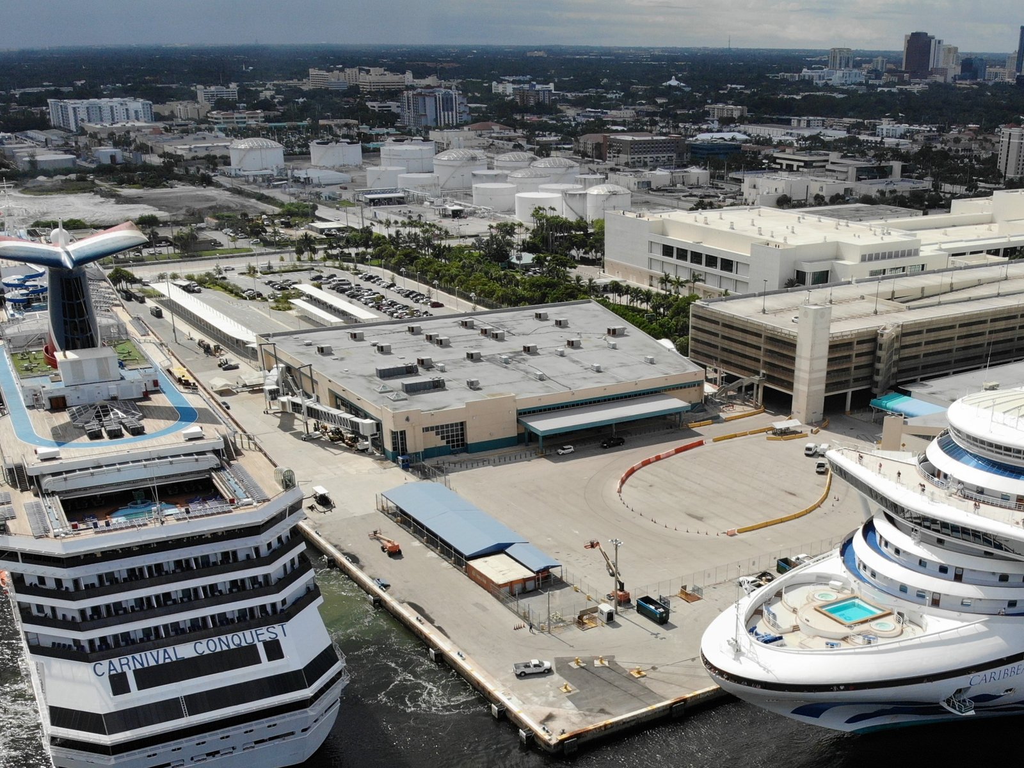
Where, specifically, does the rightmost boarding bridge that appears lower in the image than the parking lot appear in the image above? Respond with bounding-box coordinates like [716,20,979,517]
[273,363,375,453]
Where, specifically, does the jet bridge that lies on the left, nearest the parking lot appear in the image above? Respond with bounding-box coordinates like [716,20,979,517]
[256,341,288,413]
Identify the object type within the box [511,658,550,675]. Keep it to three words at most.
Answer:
vehicle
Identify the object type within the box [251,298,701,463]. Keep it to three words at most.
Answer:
building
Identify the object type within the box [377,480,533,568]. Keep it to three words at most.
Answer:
shed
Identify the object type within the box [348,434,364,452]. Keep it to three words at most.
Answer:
work vehicle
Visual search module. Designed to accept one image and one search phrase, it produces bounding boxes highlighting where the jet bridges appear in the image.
[273,363,375,453]
[256,341,288,413]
